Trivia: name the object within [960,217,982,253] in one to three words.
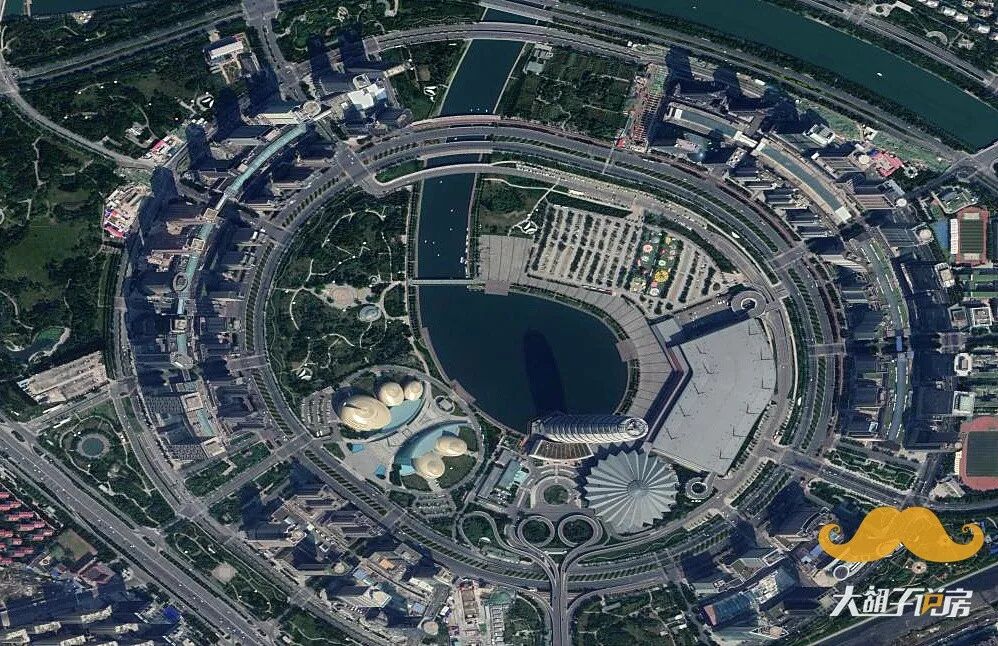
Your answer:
sports field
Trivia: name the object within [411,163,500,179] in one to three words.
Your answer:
bridge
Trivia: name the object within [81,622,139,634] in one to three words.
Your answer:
building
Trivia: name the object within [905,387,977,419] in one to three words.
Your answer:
building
